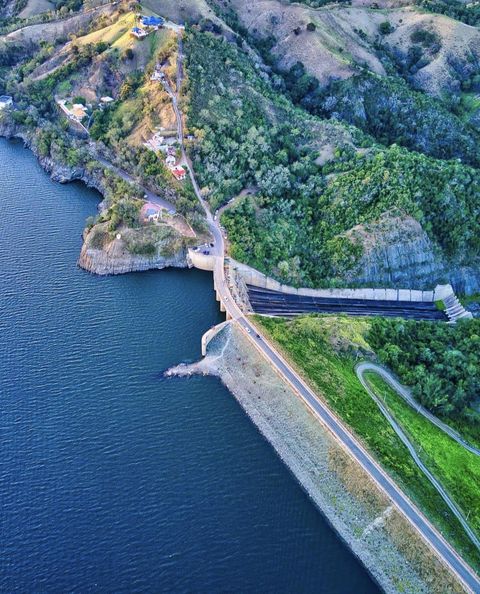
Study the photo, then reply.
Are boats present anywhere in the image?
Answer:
No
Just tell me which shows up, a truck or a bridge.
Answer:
bridge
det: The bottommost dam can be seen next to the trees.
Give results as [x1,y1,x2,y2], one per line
[203,319,480,594]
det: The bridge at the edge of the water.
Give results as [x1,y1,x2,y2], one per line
[210,240,266,332]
